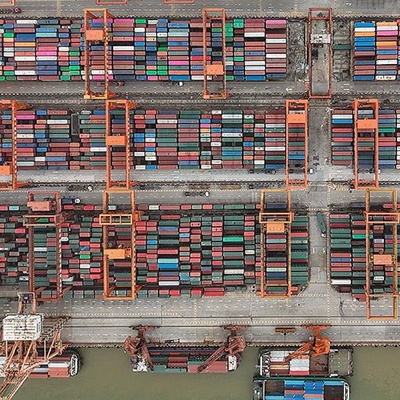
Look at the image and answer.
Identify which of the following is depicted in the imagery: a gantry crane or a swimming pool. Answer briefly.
gantry crane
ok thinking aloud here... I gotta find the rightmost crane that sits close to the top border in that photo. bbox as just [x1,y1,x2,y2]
[302,8,336,98]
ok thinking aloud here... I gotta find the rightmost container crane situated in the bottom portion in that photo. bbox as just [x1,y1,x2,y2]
[357,189,400,319]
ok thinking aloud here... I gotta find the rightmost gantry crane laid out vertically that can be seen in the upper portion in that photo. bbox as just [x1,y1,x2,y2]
[346,96,379,189]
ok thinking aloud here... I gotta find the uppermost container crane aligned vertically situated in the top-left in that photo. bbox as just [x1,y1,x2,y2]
[84,8,122,100]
